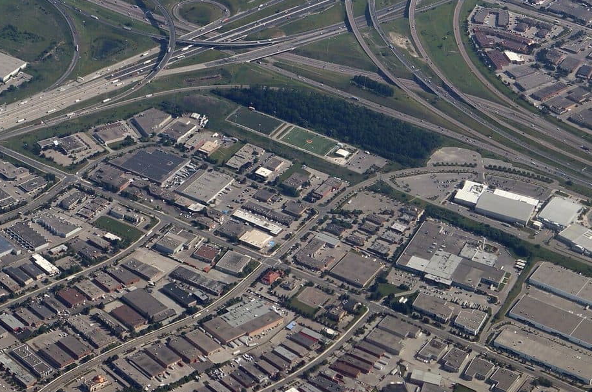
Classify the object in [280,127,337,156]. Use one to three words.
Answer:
sports field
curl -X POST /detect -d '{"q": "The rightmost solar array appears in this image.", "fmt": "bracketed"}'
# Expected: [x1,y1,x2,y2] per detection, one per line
[122,150,184,179]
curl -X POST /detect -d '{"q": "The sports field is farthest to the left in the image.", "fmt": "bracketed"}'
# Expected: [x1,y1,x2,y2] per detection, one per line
[227,107,284,134]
